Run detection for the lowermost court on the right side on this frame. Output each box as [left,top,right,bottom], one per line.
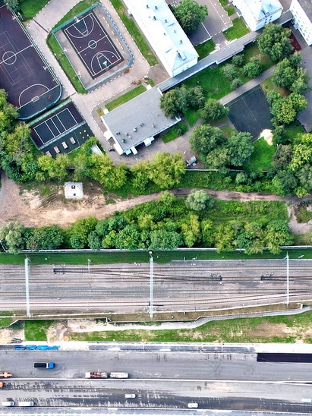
[224,84,275,134]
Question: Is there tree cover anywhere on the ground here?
Yes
